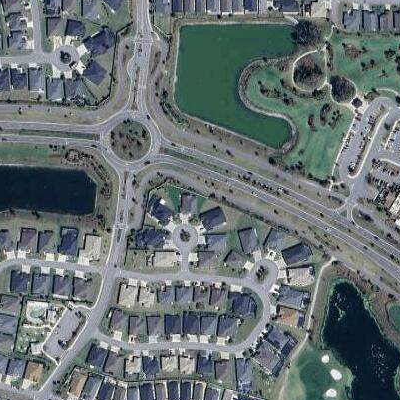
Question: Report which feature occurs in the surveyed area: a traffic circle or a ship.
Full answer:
Of the two, only a traffic circle appears.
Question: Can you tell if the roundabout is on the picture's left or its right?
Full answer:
The roundabout sits on the left side.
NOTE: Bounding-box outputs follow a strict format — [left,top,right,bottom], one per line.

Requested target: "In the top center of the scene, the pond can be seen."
[174,23,298,149]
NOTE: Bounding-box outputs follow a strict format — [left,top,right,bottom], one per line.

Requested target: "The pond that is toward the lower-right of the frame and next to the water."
[322,278,400,400]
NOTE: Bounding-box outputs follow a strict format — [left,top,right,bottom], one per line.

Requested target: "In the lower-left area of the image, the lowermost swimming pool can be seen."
[26,301,47,323]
